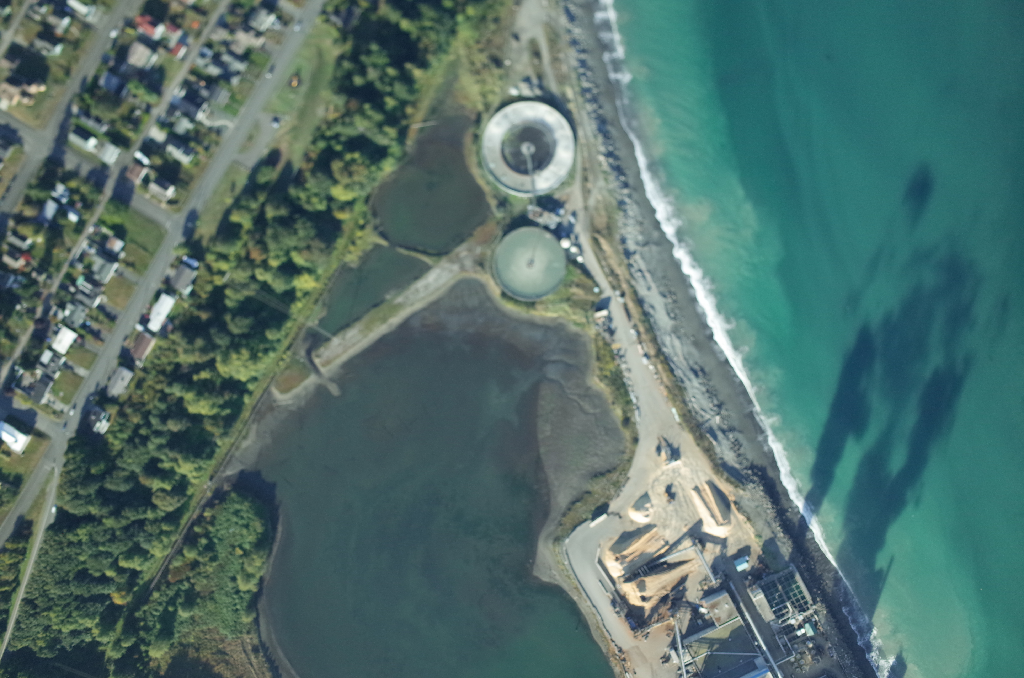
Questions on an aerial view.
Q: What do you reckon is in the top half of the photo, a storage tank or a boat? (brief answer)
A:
storage tank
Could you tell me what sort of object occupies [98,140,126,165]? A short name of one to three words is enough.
building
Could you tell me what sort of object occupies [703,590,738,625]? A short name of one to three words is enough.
building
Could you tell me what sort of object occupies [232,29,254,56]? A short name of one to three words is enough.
house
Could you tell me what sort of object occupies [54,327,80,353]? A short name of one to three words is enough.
house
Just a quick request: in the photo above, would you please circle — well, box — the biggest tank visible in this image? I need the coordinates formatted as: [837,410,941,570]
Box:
[482,102,576,206]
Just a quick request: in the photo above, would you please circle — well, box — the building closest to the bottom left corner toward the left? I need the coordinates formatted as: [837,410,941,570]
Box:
[0,422,35,453]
